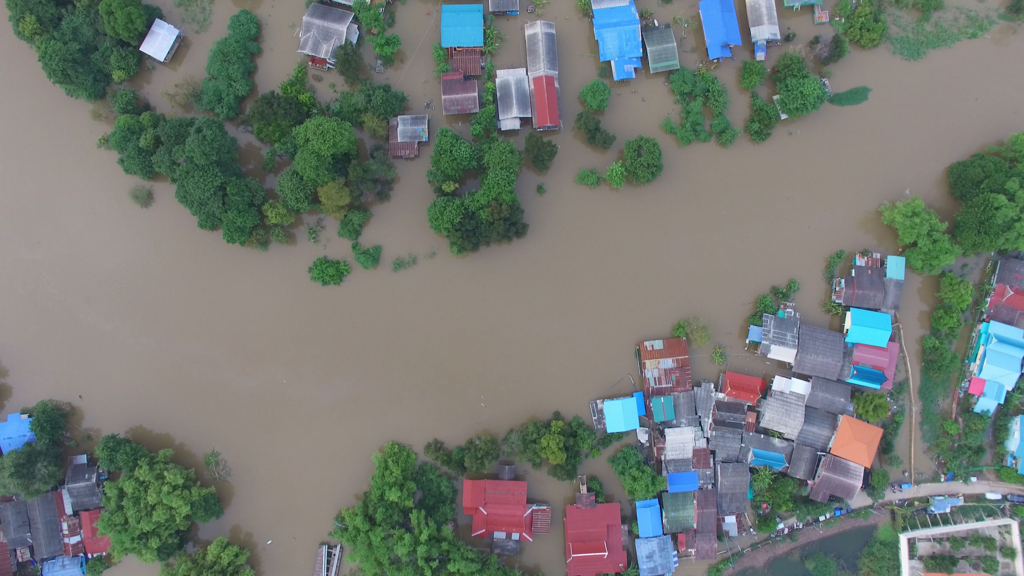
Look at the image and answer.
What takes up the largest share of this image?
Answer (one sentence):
Most of the picture is covered by water.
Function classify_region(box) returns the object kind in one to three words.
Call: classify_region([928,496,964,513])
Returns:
shed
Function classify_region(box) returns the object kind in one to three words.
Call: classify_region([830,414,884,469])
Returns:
house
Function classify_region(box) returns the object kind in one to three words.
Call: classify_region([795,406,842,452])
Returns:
house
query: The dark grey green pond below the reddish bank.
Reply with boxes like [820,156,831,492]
[735,522,877,576]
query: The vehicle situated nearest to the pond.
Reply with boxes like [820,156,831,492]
[834,506,854,520]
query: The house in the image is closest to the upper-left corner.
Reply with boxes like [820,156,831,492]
[140,22,188,66]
